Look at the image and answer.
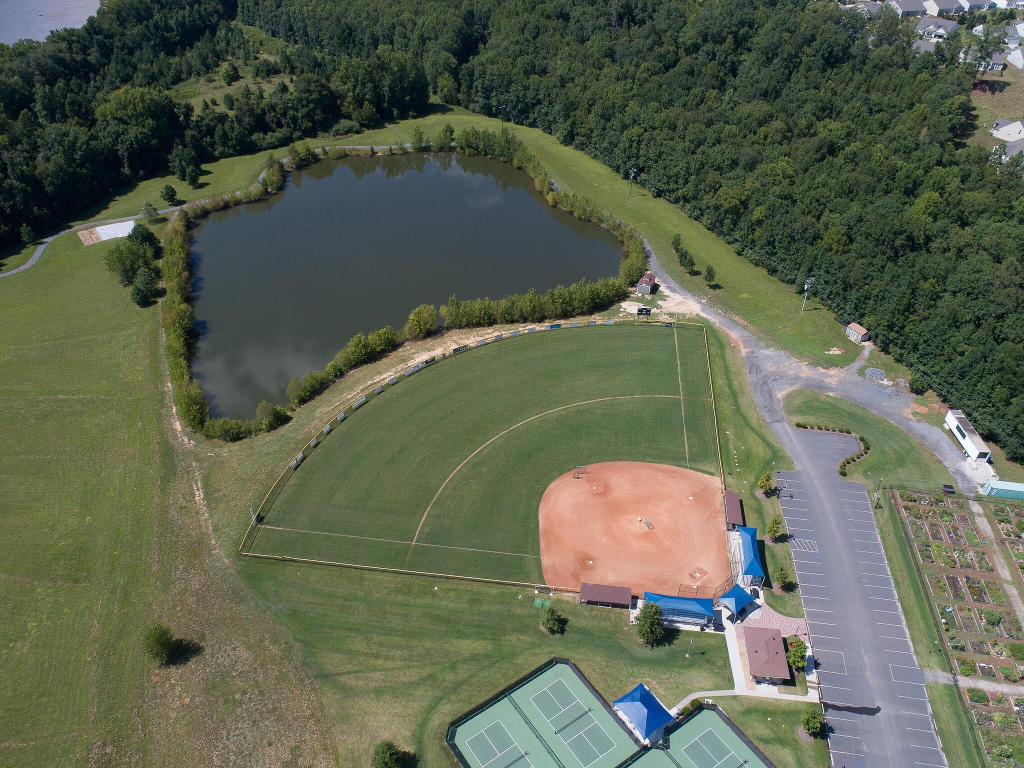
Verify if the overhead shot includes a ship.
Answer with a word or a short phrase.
No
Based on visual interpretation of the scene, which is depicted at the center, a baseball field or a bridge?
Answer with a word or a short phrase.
baseball field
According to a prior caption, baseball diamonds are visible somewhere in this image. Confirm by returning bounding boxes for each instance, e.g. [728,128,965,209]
[241,316,731,601]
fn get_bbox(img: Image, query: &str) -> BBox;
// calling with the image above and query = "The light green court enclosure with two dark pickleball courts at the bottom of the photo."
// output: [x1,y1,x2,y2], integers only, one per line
[454,663,641,768]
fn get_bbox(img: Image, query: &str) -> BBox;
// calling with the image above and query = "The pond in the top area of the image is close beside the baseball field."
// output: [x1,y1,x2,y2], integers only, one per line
[193,153,623,425]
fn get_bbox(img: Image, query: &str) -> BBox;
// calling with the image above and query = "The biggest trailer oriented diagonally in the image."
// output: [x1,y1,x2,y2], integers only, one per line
[944,410,991,462]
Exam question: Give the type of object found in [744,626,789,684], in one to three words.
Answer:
building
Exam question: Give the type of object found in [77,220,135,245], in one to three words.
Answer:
sports court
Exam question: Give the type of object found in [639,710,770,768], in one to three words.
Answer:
sports court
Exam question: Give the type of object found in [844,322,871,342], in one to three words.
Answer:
shed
